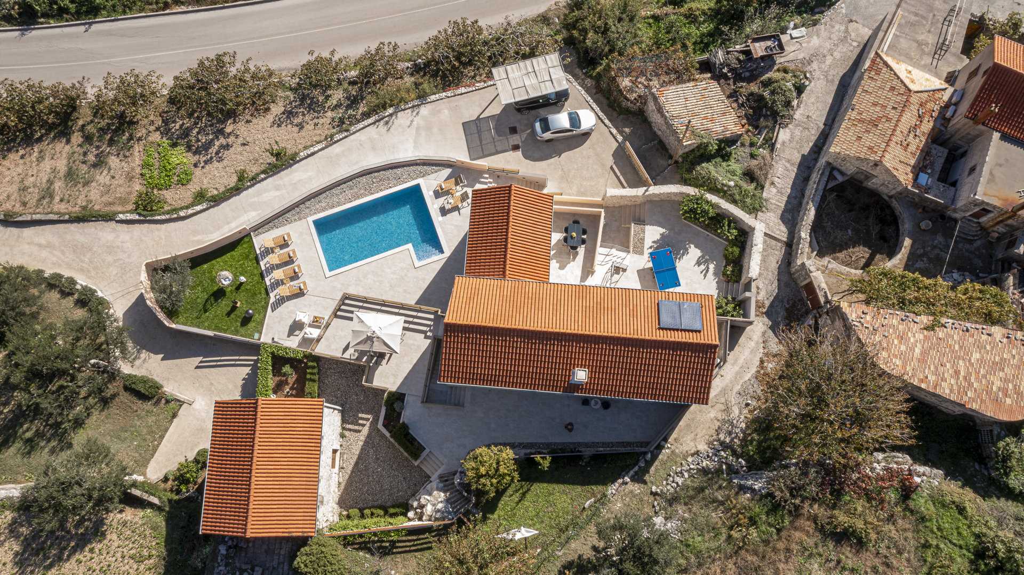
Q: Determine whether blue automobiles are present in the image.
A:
No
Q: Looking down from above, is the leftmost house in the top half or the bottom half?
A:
bottom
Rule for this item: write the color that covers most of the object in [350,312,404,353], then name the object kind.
white umbrella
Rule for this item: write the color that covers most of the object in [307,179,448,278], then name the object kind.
blue swimming pool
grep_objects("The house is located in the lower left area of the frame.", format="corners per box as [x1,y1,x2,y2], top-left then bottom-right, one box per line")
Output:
[199,398,340,537]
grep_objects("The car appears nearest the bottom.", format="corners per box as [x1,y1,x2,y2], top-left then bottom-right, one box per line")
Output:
[529,109,602,150]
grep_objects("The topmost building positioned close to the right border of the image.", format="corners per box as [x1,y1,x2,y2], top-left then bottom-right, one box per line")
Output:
[882,0,973,84]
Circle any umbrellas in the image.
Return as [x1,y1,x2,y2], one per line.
[498,529,538,547]
[350,312,404,353]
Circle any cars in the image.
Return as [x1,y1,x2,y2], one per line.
[529,109,602,150]
[508,79,578,120]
